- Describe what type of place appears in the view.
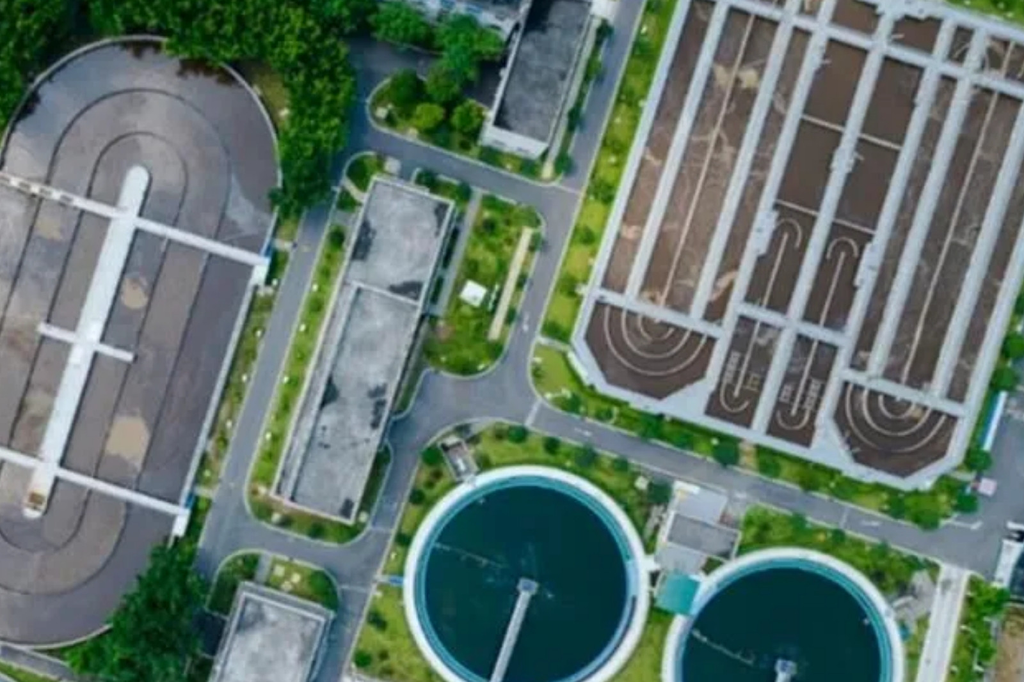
industrial area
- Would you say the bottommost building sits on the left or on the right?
left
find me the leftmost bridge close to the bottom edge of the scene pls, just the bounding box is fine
[490,593,530,682]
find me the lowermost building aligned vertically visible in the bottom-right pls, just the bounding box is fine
[991,522,1024,602]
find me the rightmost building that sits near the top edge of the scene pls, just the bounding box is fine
[485,0,599,165]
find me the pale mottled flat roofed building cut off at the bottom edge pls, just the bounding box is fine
[210,582,335,682]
